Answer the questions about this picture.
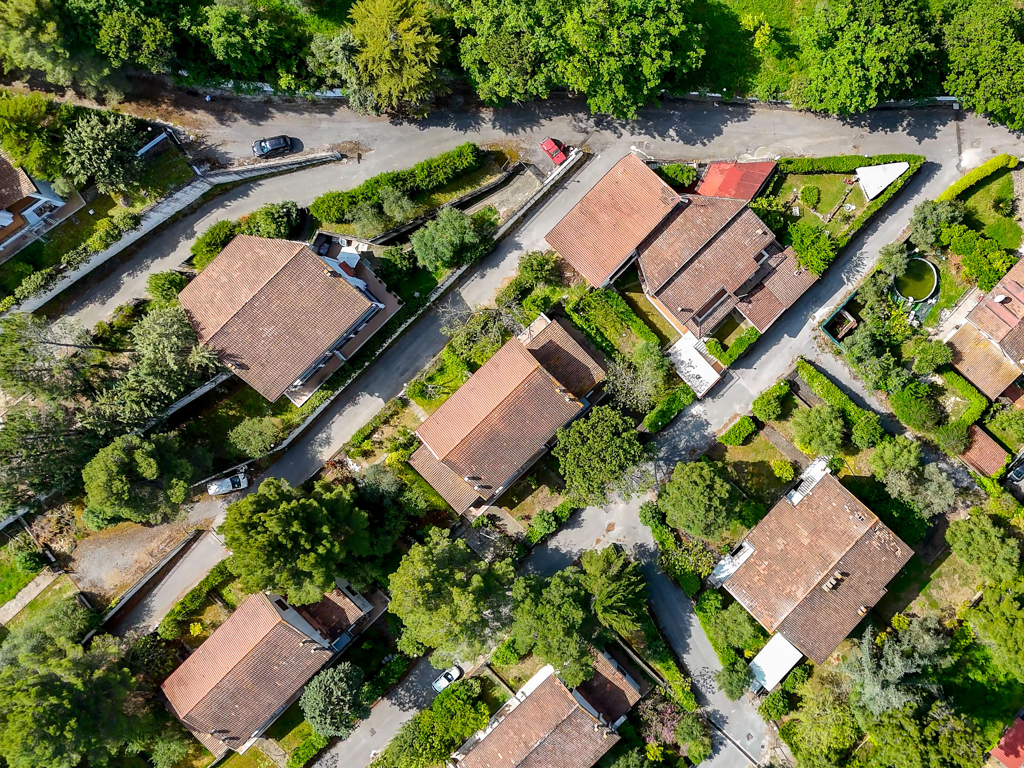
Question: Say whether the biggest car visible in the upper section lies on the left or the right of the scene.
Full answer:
You can find the biggest car visible in the upper section on the left side of the picture.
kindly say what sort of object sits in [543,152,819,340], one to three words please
house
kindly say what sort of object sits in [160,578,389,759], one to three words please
house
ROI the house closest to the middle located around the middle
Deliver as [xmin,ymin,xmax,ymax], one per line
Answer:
[408,314,605,524]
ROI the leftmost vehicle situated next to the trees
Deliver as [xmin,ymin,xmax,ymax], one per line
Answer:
[205,473,249,499]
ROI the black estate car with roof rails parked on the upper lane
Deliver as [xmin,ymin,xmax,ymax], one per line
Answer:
[250,135,293,160]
